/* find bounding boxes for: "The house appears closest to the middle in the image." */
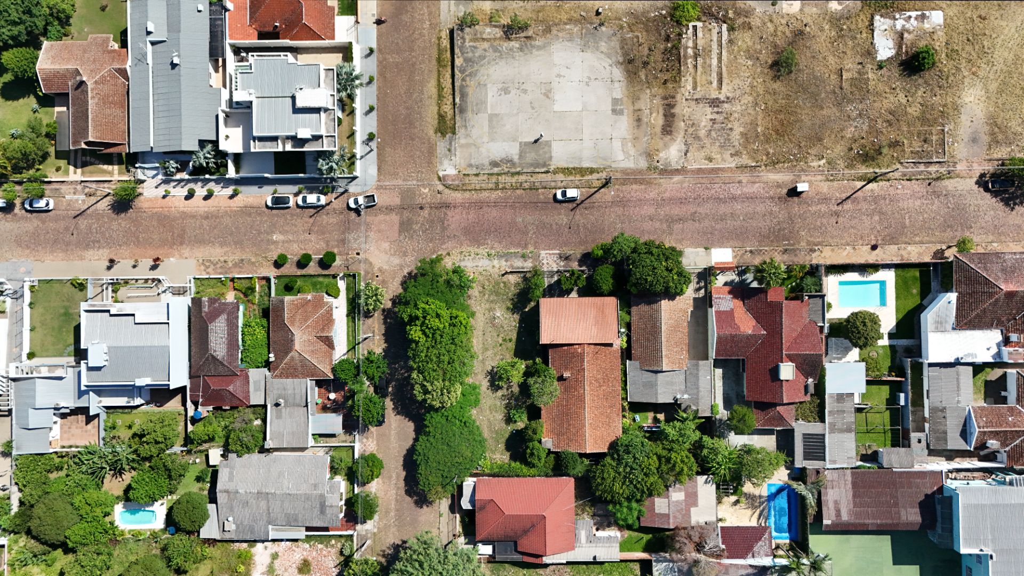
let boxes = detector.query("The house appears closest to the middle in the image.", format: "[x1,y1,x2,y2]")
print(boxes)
[540,297,619,344]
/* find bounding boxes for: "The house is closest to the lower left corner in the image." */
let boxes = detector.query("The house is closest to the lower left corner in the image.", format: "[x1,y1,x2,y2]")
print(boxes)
[8,361,97,453]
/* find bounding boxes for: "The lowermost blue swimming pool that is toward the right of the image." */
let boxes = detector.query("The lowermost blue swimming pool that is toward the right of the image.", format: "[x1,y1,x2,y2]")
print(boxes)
[768,483,798,540]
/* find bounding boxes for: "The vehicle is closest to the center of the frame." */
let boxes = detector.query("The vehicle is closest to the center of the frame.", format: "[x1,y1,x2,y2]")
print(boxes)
[553,188,580,202]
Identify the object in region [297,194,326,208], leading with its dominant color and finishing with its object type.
white car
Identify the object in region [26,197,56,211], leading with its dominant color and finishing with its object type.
white car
